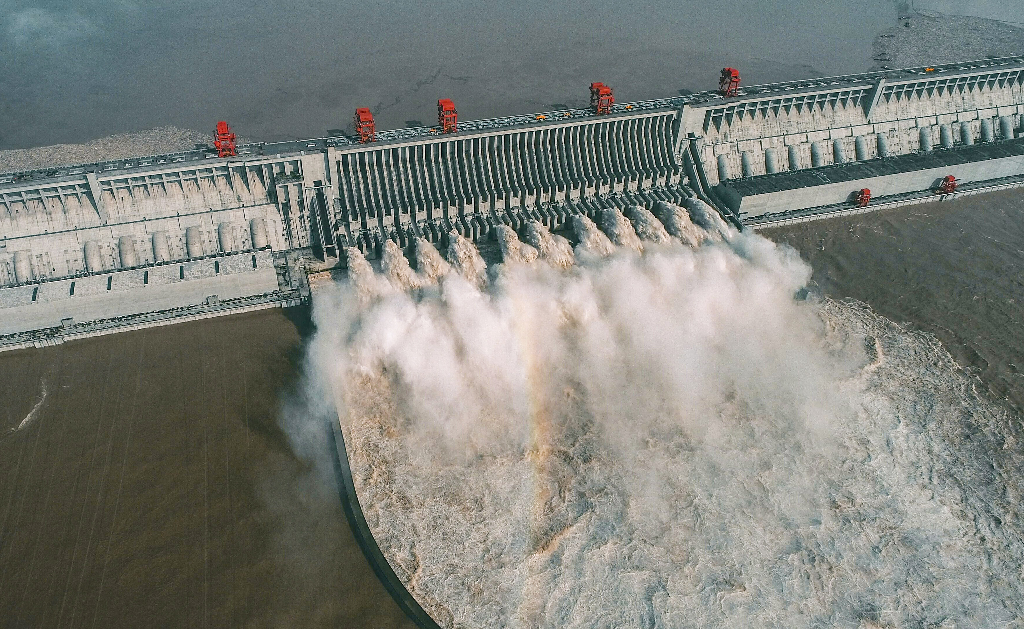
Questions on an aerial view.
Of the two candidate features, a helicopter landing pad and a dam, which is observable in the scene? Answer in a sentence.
Visible in the photo is a dam.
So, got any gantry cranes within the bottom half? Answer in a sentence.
No, the scene shows no gantry crane within the bottom half.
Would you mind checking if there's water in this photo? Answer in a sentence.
Yes, water shows up in the scene.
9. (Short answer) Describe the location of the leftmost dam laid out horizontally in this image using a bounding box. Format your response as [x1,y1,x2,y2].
[0,159,286,286]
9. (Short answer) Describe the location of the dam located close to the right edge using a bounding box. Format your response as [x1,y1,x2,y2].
[704,68,1024,197]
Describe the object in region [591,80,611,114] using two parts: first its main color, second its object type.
red container crane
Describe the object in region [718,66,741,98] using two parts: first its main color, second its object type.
red container crane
